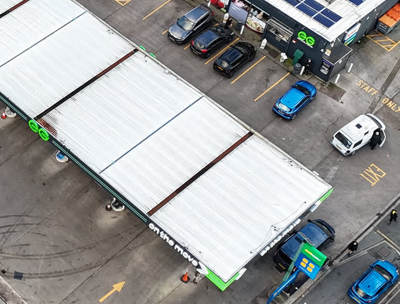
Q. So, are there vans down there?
Yes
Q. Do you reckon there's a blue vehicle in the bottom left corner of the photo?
No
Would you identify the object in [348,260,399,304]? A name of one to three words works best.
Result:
car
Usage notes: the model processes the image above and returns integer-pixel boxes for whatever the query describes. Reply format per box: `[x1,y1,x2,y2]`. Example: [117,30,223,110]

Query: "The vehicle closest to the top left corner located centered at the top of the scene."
[169,3,212,42]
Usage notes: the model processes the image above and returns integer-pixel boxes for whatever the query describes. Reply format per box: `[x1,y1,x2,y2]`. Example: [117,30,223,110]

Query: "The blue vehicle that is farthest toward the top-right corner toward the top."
[272,83,316,120]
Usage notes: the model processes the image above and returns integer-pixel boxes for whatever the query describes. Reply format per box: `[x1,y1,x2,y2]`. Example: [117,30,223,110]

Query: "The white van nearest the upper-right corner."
[331,112,391,158]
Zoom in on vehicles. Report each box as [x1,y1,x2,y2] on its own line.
[348,260,399,304]
[213,42,257,77]
[272,83,316,120]
[169,3,212,42]
[192,26,234,58]
[331,112,391,158]
[272,220,331,271]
